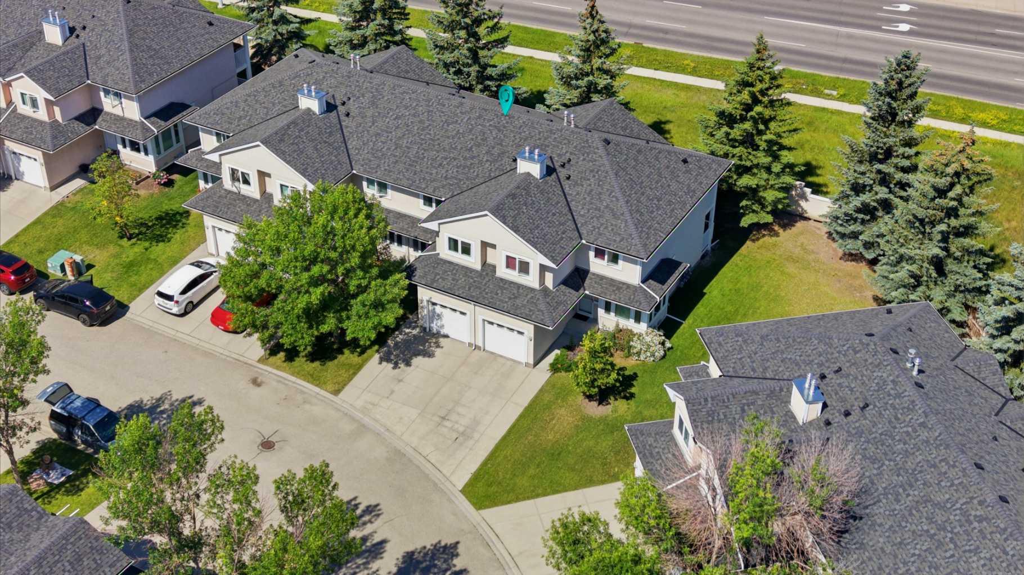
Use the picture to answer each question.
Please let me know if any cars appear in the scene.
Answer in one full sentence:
Yes, I can see a car in this picture.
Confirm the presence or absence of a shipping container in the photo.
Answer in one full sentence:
No, no shipping container can be seen from above.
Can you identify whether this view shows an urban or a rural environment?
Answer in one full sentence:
It looks urban.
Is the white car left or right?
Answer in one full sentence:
The white car is on the left side of the image.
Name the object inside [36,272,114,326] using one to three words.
car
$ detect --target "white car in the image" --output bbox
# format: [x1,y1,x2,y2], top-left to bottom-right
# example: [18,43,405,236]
[157,259,229,307]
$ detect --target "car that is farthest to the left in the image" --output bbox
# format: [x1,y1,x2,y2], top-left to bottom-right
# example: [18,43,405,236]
[0,252,31,293]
